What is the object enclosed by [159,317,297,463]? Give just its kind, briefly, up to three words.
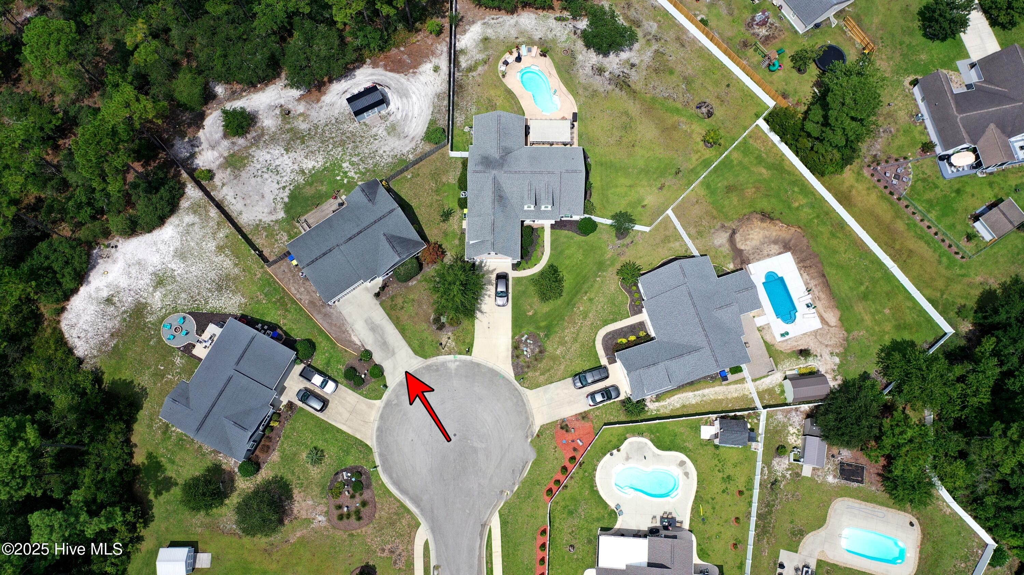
house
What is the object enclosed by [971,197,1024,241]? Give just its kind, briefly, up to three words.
shed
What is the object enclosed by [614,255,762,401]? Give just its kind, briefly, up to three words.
house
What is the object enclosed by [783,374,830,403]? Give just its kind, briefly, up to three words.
shed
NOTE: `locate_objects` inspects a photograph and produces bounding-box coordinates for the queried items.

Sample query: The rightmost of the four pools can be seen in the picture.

[840,527,908,566]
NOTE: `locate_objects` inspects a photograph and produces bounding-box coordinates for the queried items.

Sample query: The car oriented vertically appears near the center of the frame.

[494,272,510,306]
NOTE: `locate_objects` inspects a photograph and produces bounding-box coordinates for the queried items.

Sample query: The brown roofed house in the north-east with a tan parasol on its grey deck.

[909,43,1024,172]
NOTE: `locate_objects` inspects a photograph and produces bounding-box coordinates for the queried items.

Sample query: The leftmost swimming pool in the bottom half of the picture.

[612,464,682,501]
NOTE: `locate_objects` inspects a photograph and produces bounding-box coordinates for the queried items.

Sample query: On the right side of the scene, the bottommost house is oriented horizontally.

[592,534,693,575]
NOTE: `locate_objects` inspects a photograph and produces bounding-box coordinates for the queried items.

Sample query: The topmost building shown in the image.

[777,0,862,34]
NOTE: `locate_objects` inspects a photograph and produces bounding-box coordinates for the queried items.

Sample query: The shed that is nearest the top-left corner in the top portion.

[346,84,385,121]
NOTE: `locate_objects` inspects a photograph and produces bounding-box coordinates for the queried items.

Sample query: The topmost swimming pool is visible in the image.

[517,64,560,114]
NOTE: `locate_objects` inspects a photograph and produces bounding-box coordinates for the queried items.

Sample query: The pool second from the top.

[762,270,798,324]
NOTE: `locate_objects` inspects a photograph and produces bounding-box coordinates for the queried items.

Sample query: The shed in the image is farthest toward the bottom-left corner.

[156,547,194,575]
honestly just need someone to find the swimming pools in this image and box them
[840,527,908,566]
[762,270,798,324]
[517,64,560,114]
[612,464,682,501]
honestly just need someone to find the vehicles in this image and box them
[296,363,340,395]
[294,386,331,414]
[494,272,510,306]
[587,385,621,407]
[573,364,610,386]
